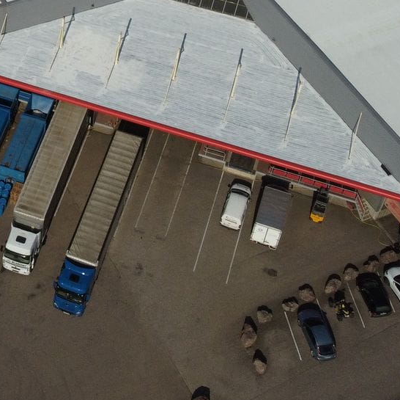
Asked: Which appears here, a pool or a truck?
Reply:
truck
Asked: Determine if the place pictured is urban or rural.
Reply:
urban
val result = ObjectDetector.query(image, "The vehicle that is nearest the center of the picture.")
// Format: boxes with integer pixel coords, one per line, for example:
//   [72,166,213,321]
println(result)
[219,185,254,235]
